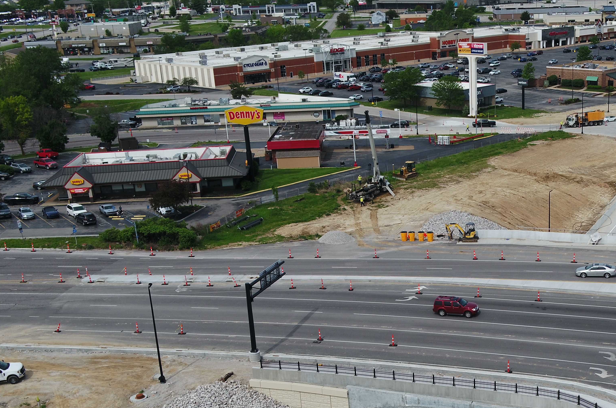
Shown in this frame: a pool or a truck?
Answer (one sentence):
Looking from above, you can make out a truck.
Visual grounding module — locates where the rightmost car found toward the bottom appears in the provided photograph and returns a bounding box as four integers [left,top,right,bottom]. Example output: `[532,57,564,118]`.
[573,262,616,278]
